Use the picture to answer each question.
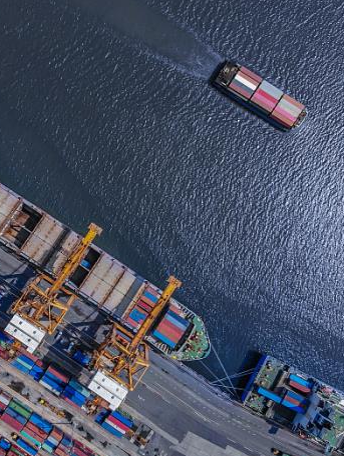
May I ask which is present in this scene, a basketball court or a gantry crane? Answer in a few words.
gantry crane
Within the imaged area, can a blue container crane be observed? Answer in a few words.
No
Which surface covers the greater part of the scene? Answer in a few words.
water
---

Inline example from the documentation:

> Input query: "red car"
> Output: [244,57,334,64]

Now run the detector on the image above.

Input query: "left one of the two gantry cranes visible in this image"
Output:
[3,218,104,354]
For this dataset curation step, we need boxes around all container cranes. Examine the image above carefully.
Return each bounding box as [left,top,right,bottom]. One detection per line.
[3,218,104,354]
[82,273,183,410]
